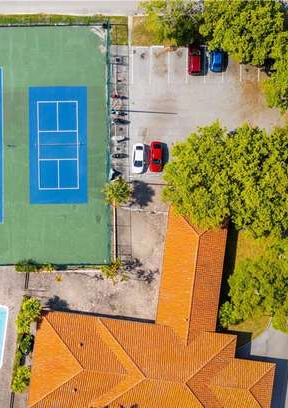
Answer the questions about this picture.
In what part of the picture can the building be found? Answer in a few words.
bottom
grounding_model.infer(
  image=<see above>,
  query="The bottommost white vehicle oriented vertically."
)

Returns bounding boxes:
[132,143,147,174]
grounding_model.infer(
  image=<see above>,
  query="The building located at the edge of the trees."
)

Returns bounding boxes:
[30,204,276,408]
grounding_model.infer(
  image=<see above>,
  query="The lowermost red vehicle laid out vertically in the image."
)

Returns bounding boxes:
[149,141,164,172]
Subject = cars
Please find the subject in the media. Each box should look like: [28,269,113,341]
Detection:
[149,141,164,172]
[132,143,147,174]
[187,45,203,76]
[208,48,224,77]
